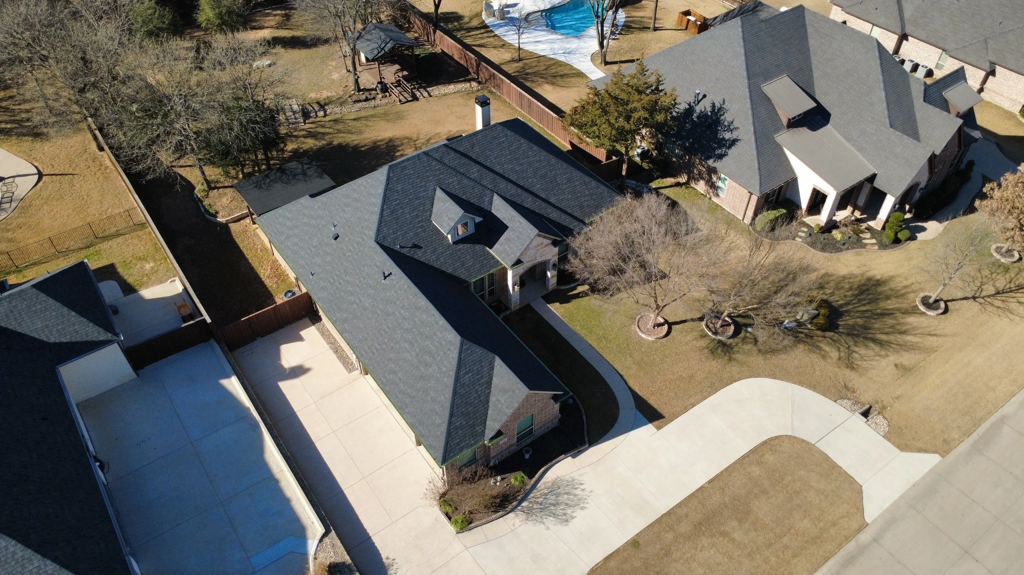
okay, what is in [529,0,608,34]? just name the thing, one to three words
swimming pool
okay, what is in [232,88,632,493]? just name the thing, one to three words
house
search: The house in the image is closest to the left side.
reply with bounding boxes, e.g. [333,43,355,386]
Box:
[0,259,138,575]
